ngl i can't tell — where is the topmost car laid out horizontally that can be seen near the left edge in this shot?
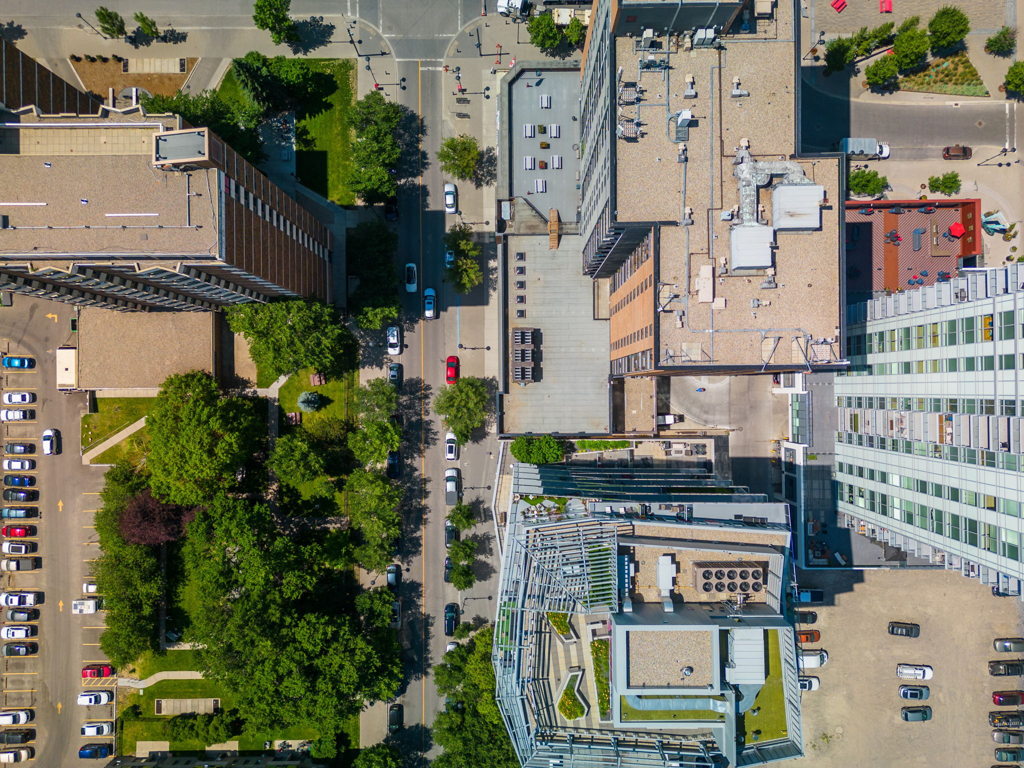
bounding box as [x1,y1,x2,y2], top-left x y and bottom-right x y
[2,355,32,369]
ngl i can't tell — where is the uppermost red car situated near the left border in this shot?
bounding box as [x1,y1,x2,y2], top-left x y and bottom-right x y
[2,524,33,538]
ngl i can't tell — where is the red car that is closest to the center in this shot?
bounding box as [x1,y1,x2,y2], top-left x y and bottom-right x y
[446,355,459,385]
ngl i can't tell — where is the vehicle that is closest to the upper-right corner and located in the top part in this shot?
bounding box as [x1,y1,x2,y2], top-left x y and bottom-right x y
[941,145,972,160]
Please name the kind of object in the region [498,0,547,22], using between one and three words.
truck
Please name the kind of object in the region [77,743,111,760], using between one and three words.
car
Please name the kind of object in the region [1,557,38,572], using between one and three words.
vehicle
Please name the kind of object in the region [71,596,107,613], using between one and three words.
camper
